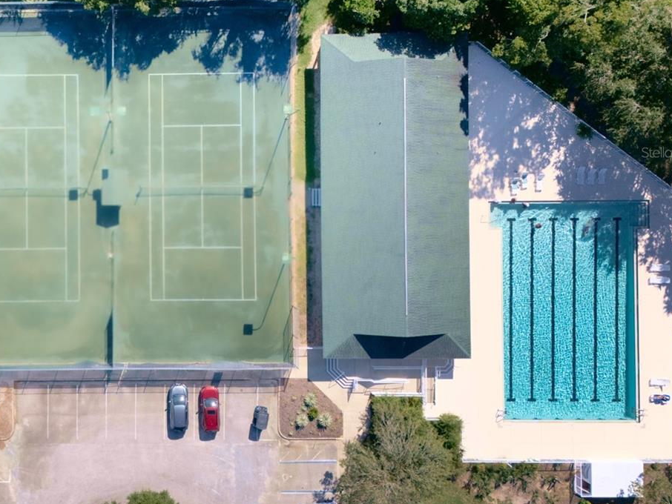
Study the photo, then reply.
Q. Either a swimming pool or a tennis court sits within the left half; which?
tennis court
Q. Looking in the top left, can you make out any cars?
No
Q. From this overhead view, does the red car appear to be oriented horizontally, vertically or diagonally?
vertically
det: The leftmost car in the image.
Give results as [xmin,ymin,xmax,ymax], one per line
[167,382,189,431]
